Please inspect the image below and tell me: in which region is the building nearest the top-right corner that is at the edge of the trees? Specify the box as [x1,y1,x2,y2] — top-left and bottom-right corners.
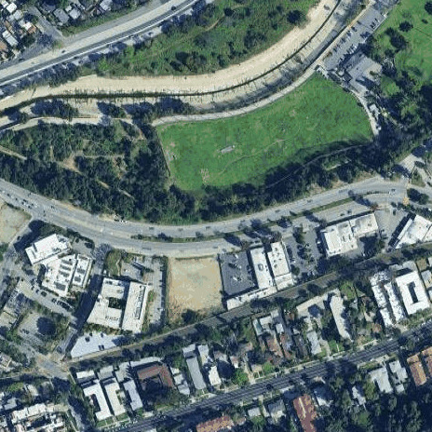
[346,52,383,84]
